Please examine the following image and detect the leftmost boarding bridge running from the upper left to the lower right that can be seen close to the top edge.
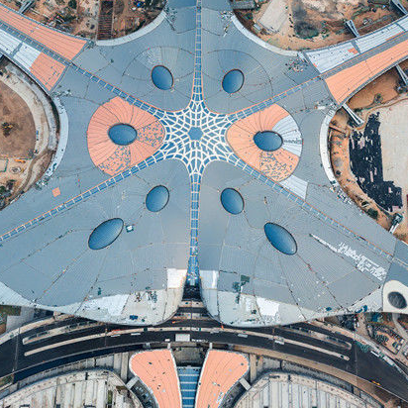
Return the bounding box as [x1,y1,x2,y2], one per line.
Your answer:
[342,18,363,41]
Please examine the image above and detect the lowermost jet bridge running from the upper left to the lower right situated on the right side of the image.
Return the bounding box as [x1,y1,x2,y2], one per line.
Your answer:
[342,101,367,129]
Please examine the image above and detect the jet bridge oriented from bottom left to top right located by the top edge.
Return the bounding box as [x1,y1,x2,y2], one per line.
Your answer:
[18,0,37,15]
